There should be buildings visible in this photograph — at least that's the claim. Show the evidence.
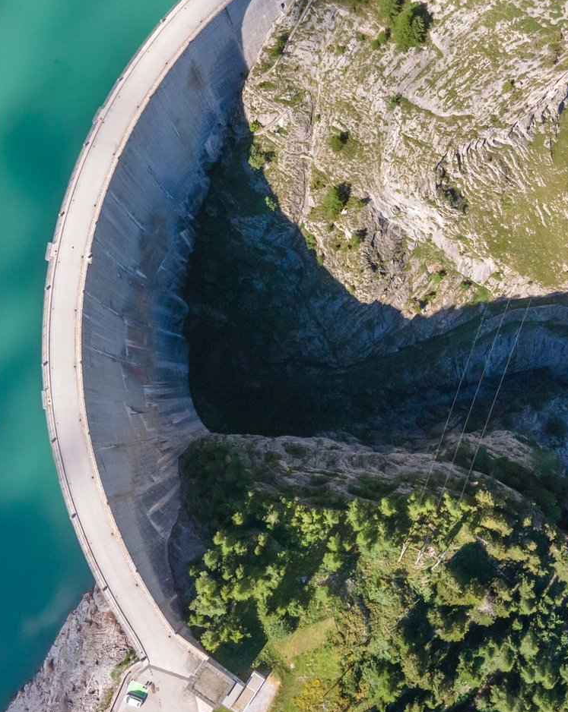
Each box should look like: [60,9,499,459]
[187,654,236,708]
[229,663,266,712]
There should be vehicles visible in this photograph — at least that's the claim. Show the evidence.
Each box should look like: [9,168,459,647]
[122,695,143,712]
